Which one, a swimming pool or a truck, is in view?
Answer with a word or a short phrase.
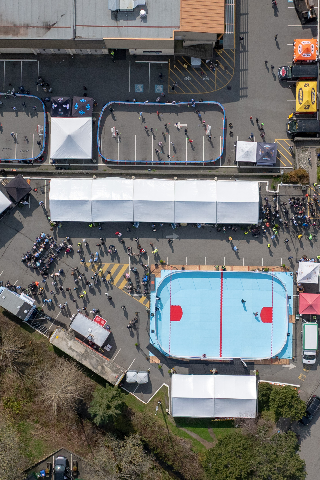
truck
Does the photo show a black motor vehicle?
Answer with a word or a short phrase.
Yes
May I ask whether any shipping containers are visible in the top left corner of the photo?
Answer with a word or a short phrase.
No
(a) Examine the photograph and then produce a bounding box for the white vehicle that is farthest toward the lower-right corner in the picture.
[300,322,318,361]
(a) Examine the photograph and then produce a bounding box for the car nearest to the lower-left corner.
[52,455,69,480]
